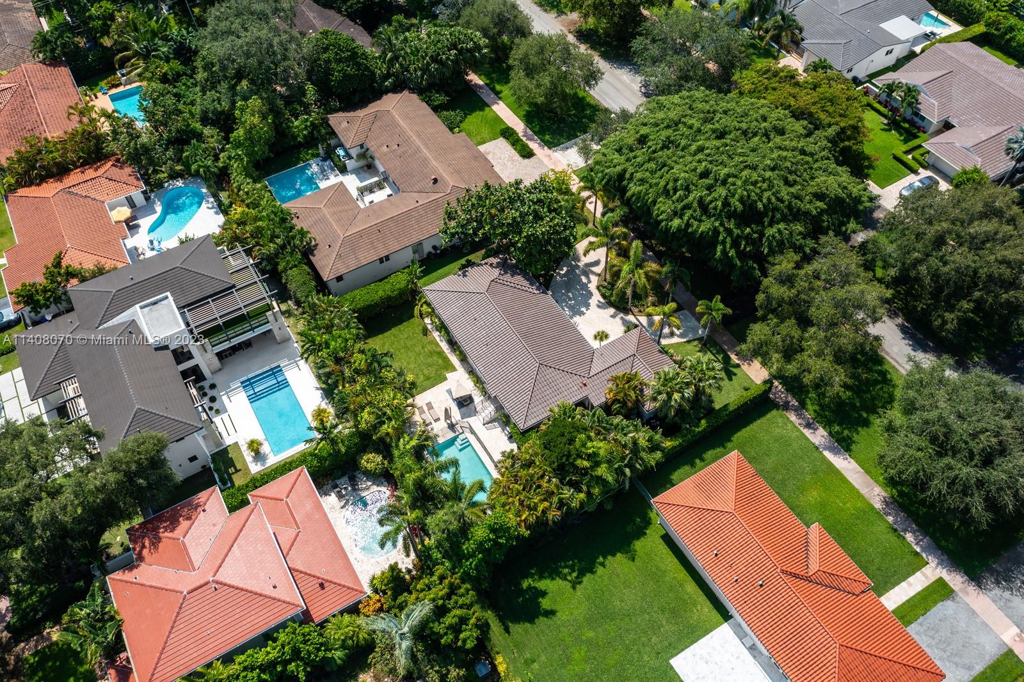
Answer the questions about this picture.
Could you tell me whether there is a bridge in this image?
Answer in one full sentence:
No, the frame has no bridge in it.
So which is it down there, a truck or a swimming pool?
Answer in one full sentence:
Of the two, only a swimming pool appears.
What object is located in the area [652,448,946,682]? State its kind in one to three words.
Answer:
house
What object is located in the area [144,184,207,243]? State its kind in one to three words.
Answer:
swimming pool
